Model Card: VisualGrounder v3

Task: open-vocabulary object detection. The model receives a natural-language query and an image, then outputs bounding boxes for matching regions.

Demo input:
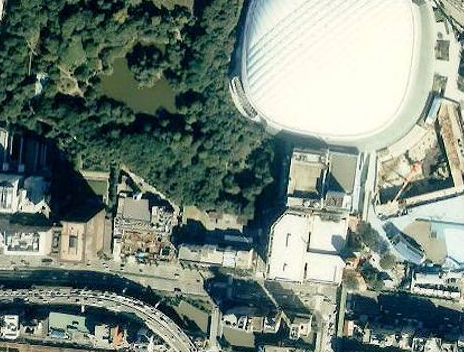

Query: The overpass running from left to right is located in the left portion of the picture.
[0,287,192,352]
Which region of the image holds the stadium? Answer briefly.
top right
